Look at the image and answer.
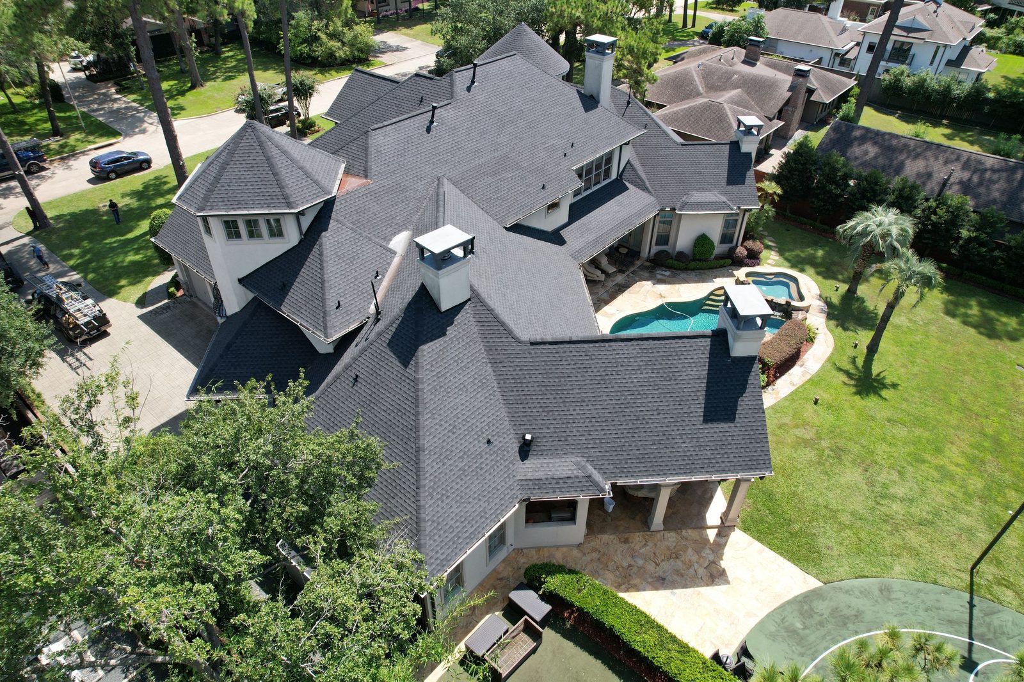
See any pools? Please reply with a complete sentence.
Yes, a pool is visible in the scene.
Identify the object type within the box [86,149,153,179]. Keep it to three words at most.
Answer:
car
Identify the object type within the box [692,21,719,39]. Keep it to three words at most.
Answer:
car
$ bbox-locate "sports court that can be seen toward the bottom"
[724,578,1024,682]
